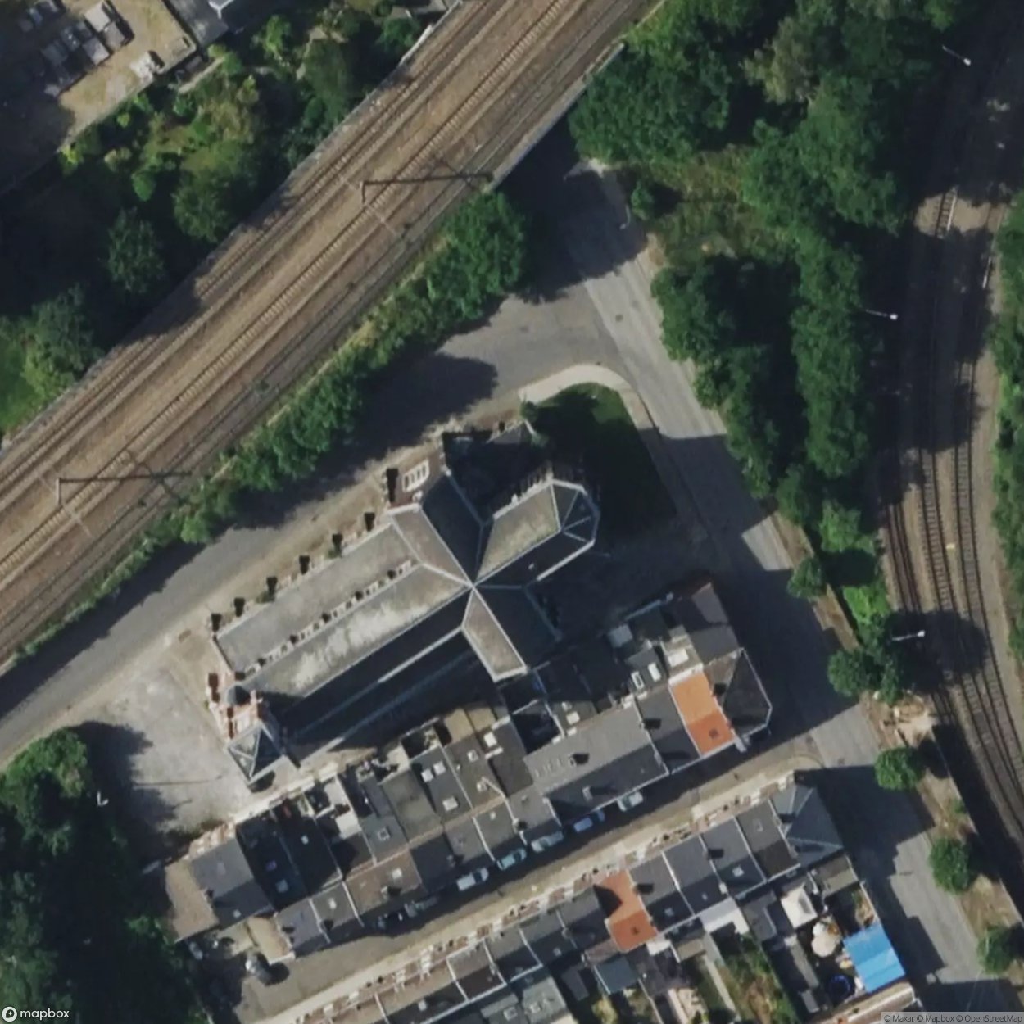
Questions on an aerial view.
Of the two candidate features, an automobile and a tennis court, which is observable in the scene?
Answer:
automobile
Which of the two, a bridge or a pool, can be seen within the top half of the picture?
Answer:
bridge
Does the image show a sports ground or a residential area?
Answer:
residential area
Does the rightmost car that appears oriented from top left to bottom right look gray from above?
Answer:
Yes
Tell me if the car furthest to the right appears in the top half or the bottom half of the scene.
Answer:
bottom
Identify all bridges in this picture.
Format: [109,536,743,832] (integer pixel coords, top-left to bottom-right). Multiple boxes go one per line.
[494,40,634,195]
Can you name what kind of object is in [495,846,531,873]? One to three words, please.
car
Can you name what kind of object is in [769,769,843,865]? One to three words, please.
house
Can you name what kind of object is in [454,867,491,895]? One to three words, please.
car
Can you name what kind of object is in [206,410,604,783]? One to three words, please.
church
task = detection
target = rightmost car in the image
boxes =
[613,789,648,815]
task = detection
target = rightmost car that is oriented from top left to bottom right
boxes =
[244,949,274,985]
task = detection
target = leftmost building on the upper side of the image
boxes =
[175,0,227,43]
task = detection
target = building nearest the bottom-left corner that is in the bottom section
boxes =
[166,849,219,941]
